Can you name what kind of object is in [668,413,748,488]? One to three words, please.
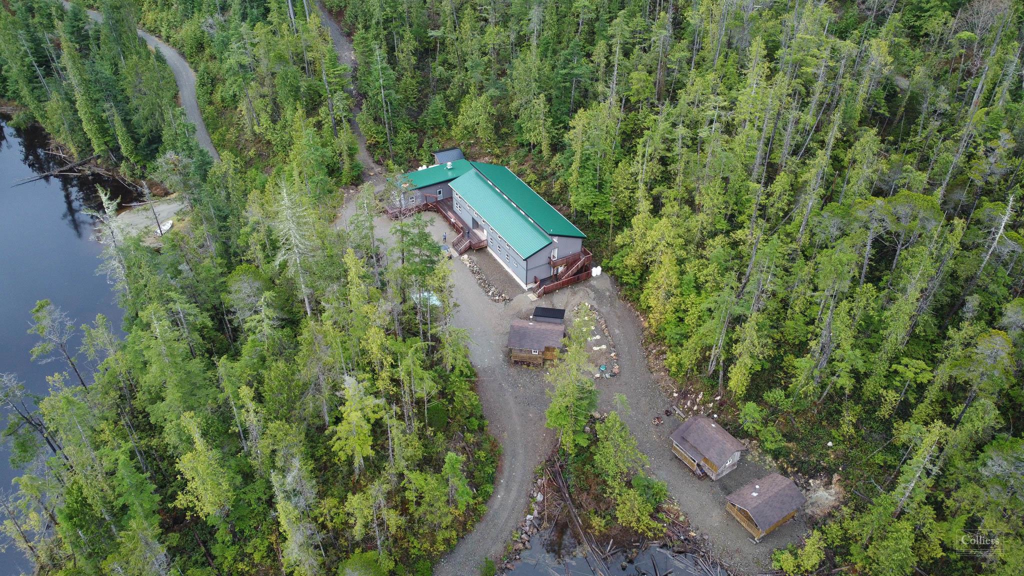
building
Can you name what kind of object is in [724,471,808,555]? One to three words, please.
building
